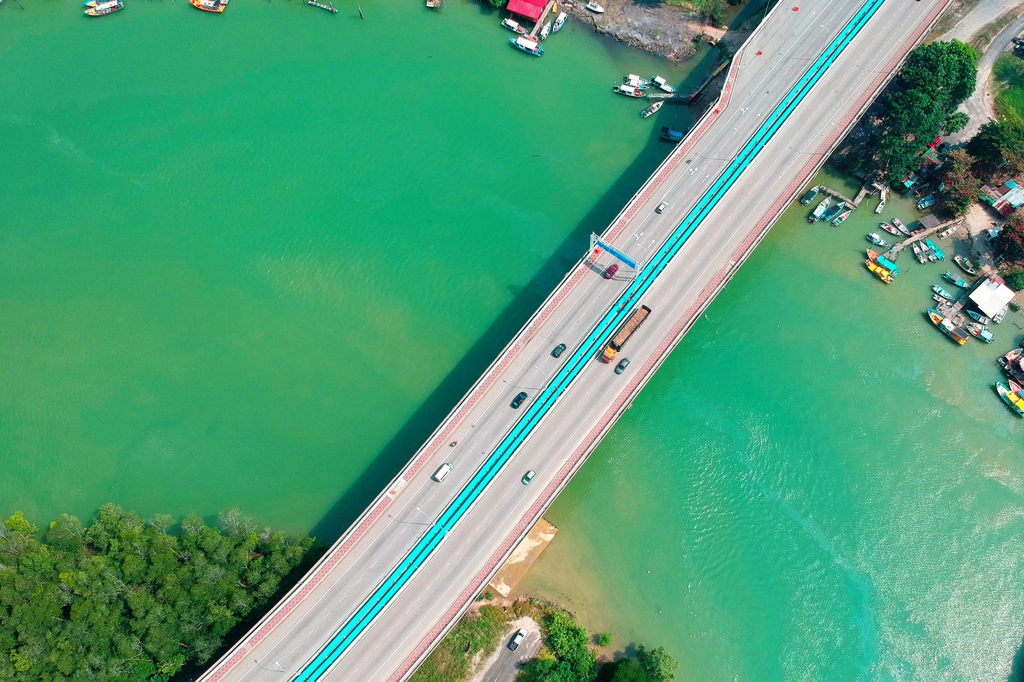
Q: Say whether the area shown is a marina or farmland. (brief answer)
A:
marina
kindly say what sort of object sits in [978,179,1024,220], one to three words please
house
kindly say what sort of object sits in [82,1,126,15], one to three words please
boat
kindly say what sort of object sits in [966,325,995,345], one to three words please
boat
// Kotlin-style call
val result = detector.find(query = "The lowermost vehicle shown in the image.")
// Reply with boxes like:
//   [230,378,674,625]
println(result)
[508,629,526,652]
